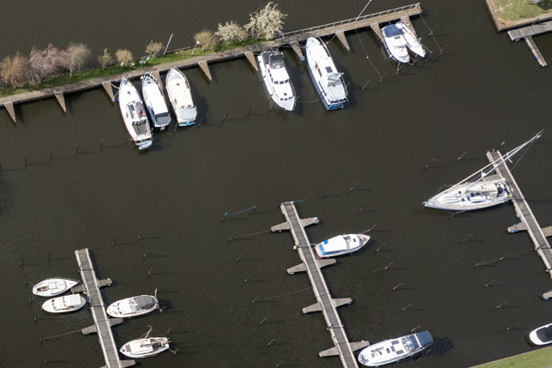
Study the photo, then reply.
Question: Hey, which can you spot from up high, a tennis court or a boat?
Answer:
boat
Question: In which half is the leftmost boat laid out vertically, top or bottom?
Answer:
top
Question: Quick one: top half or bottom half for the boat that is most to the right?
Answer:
bottom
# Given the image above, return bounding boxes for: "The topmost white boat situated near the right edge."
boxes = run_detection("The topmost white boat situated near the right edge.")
[424,135,543,211]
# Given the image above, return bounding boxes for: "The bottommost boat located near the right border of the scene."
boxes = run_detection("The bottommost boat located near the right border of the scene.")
[527,320,552,341]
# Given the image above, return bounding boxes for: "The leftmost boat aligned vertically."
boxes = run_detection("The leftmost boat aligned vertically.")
[120,75,146,143]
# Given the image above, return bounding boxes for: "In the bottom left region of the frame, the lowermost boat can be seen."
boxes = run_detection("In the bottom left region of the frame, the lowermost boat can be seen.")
[120,334,170,355]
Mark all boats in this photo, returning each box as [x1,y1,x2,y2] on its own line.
[144,73,170,132]
[307,33,346,117]
[256,50,295,112]
[31,277,78,296]
[120,334,170,355]
[169,64,197,130]
[42,294,87,312]
[381,25,409,65]
[398,20,428,58]
[107,294,160,318]
[357,329,439,363]
[424,135,543,211]
[527,320,552,341]
[120,75,146,143]
[311,233,372,260]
